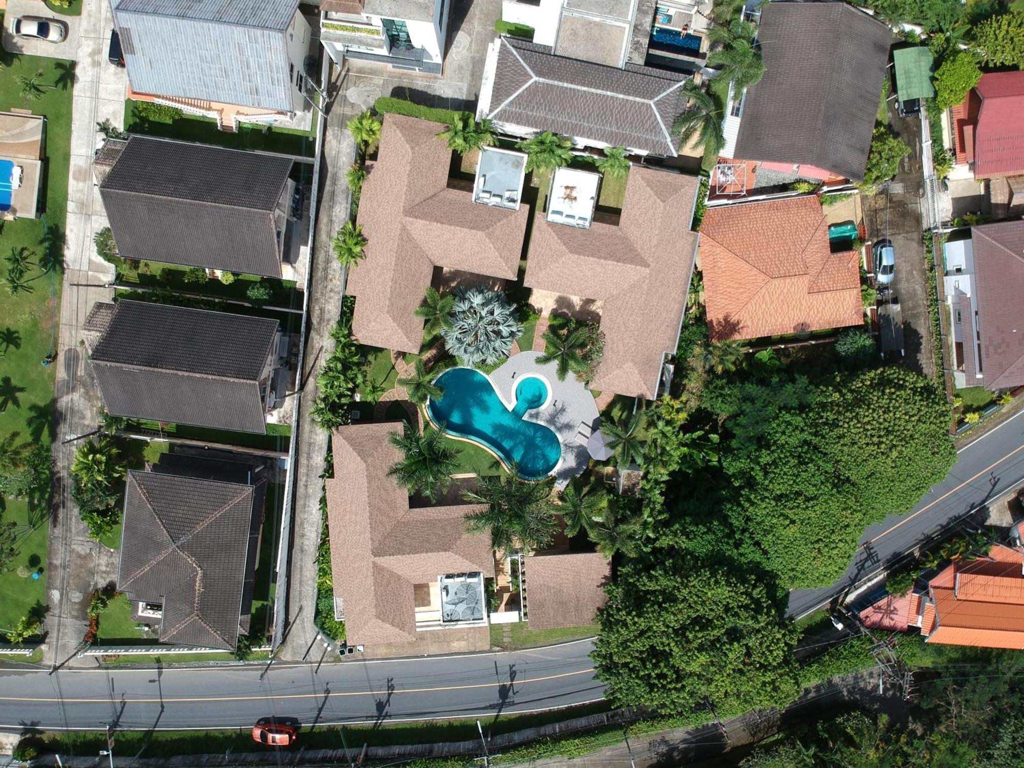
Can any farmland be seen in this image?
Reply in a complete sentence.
No, farmland can't be seen anywhere here.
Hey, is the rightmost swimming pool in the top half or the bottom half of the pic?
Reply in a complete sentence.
It is in the top half that the rightmost swimming pool appears.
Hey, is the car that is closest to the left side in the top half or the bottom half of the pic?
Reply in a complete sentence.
It is in the top half that the car that is closest to the left side appears.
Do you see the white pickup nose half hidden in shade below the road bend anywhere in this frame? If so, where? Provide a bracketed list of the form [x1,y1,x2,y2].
[824,608,846,630]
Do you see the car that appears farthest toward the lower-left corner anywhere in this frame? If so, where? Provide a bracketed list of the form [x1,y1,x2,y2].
[254,718,297,743]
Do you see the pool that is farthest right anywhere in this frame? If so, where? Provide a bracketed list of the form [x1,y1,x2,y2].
[647,0,713,72]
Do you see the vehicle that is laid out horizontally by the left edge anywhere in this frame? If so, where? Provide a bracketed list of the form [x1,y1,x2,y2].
[10,17,66,45]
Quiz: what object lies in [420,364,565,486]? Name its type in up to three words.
swimming pool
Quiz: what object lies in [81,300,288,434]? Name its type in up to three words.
house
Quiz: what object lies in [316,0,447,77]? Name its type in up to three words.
house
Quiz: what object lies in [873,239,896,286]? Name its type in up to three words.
car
